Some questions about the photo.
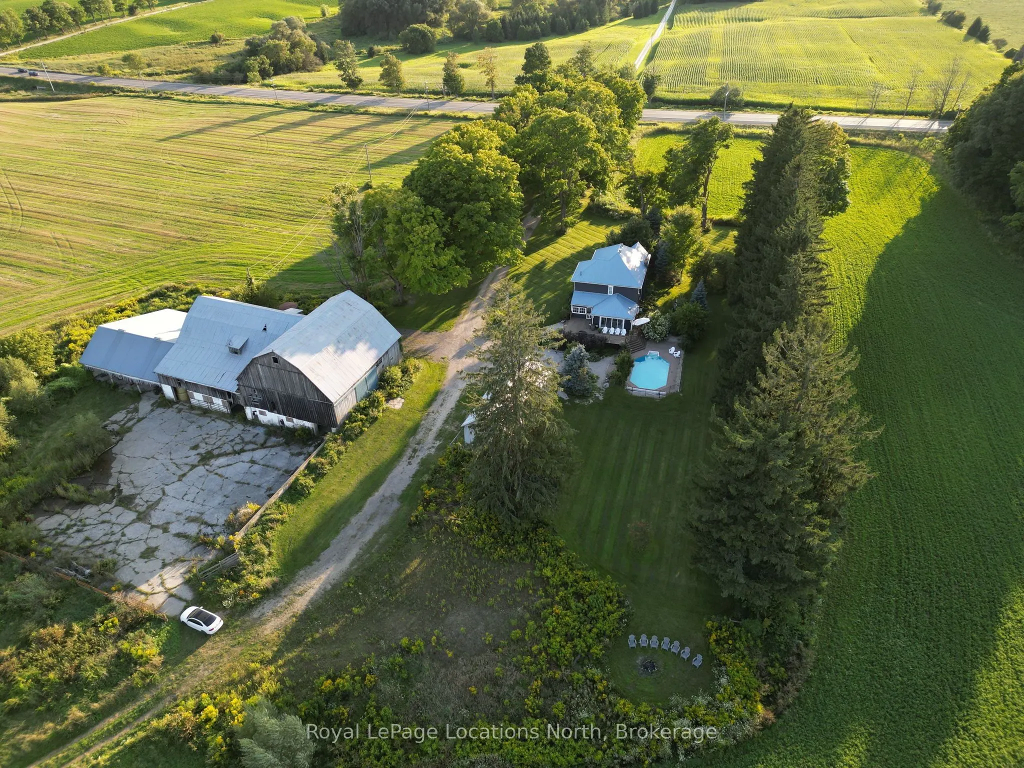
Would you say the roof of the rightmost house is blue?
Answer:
Yes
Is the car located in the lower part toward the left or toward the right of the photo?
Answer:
left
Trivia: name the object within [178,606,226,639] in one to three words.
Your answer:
car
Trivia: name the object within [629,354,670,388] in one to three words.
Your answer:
swimming pool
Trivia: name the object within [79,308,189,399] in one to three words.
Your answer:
shed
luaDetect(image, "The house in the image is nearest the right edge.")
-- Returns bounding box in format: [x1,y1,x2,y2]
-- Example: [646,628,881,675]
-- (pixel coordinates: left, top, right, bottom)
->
[568,239,652,339]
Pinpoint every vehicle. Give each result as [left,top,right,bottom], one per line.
[16,68,28,73]
[27,70,39,76]
[178,606,226,639]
